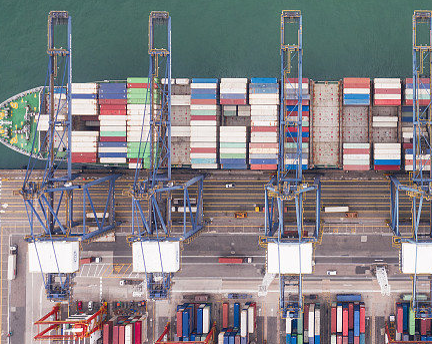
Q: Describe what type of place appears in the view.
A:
port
